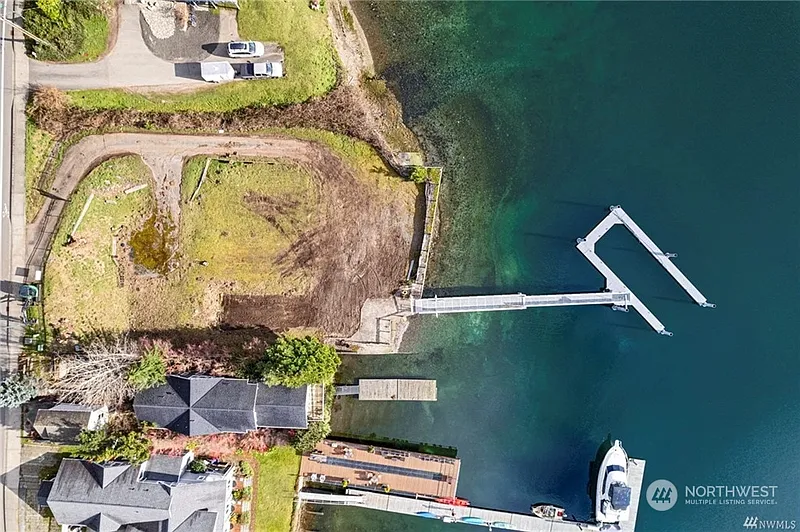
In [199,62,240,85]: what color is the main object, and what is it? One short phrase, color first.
white trailer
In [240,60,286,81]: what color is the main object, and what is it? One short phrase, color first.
white truck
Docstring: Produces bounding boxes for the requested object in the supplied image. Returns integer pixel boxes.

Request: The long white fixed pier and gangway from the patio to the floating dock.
[412,290,635,318]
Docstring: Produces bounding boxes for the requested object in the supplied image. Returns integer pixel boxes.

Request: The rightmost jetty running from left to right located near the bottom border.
[346,488,612,532]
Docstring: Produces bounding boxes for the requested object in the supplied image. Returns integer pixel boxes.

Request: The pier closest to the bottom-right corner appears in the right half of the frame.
[611,457,645,532]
